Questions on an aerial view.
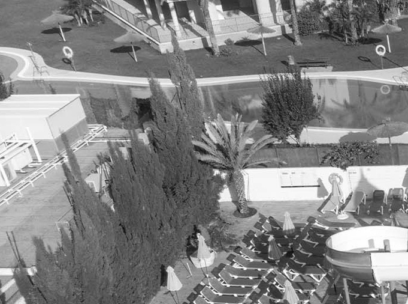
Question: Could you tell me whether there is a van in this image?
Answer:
No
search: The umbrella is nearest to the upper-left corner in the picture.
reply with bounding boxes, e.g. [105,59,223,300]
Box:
[41,10,76,41]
